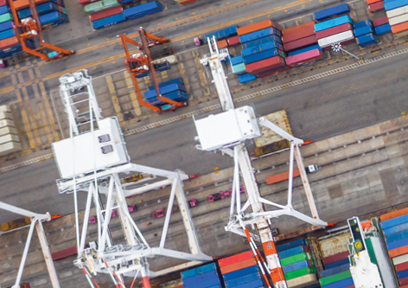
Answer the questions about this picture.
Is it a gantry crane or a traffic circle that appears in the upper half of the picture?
gantry crane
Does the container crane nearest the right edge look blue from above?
No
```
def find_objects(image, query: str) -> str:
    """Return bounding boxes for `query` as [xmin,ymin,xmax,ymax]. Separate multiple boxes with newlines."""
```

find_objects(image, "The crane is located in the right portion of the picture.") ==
[192,33,342,288]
